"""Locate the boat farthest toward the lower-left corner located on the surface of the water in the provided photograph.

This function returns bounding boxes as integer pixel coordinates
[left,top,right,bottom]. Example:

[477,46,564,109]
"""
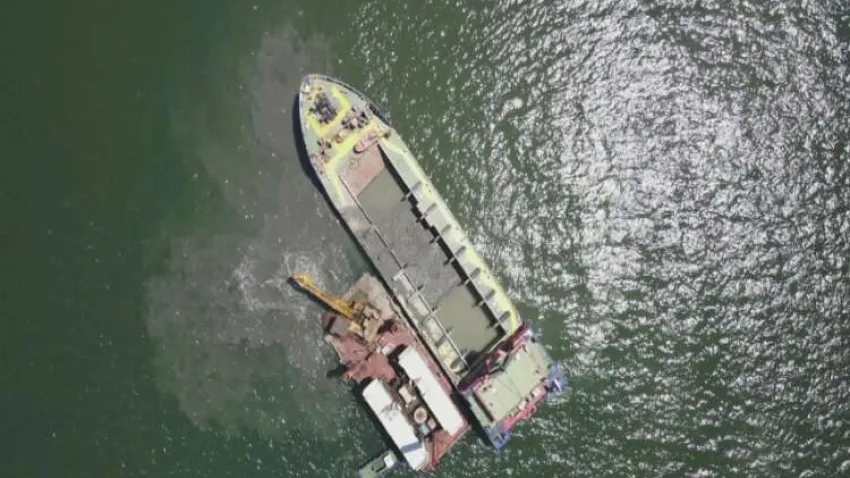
[360,448,400,478]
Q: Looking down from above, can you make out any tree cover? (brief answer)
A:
No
